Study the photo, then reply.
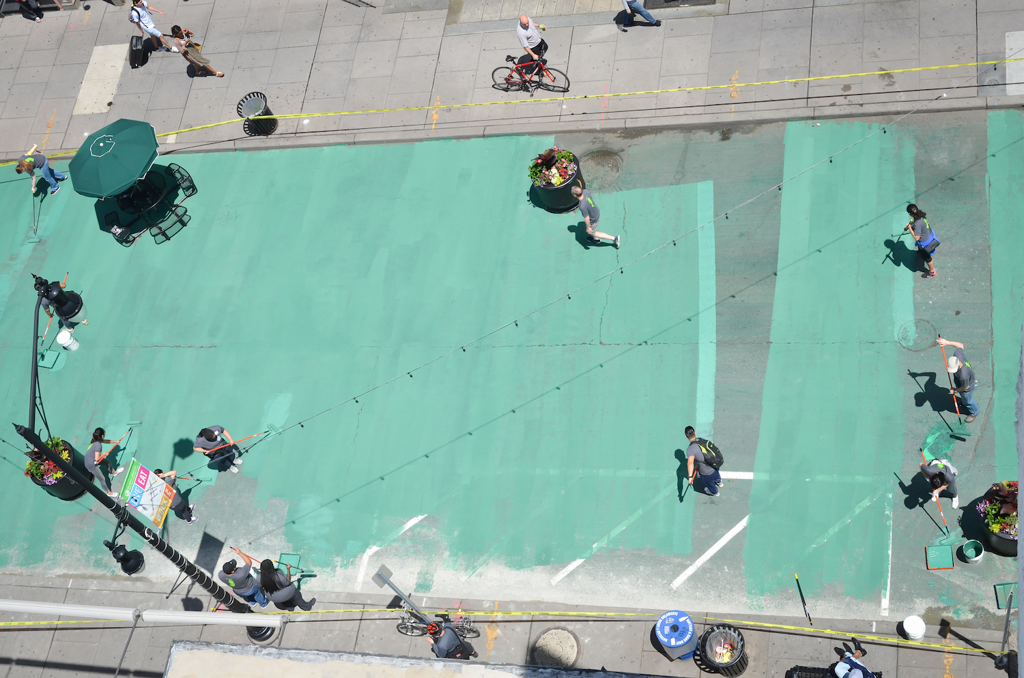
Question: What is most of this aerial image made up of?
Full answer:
The bulk of the photo consists of paved ground.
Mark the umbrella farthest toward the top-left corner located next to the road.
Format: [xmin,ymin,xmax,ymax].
[70,116,158,199]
